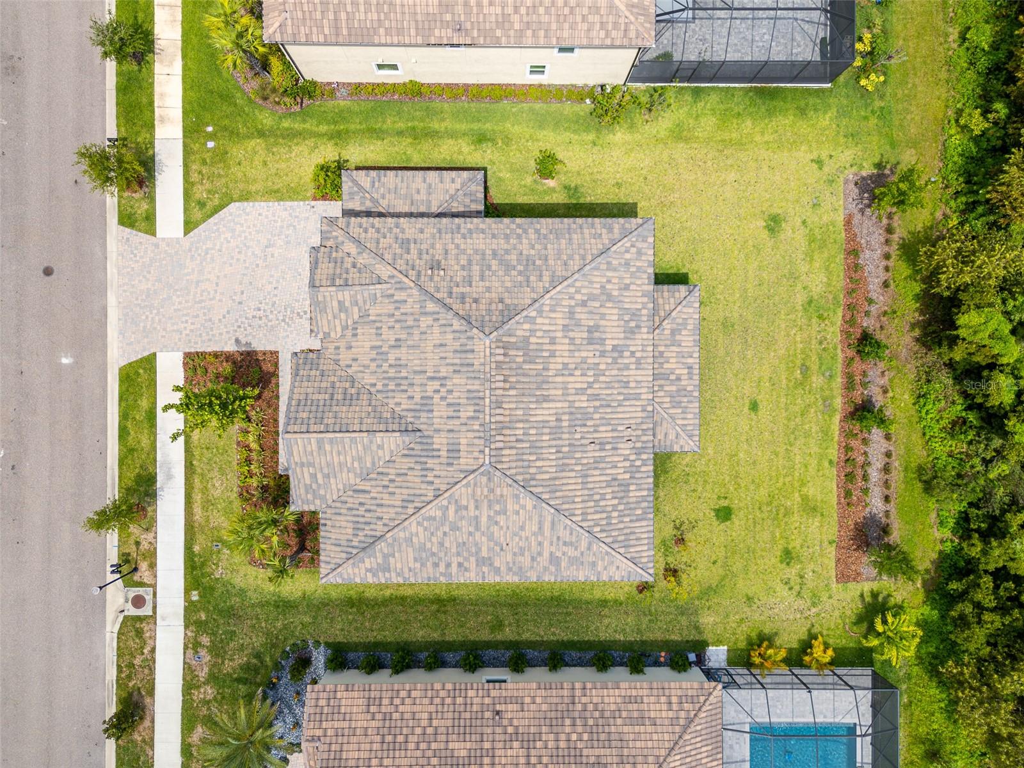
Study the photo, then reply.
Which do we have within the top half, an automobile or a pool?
pool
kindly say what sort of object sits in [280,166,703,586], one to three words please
house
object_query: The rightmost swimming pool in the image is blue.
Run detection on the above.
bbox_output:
[745,719,862,768]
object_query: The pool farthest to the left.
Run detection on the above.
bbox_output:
[656,0,698,23]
